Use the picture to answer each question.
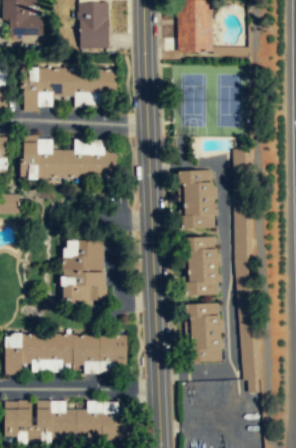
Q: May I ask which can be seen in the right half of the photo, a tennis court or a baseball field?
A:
tennis court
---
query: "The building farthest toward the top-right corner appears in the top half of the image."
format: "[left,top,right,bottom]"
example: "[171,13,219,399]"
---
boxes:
[178,0,214,52]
